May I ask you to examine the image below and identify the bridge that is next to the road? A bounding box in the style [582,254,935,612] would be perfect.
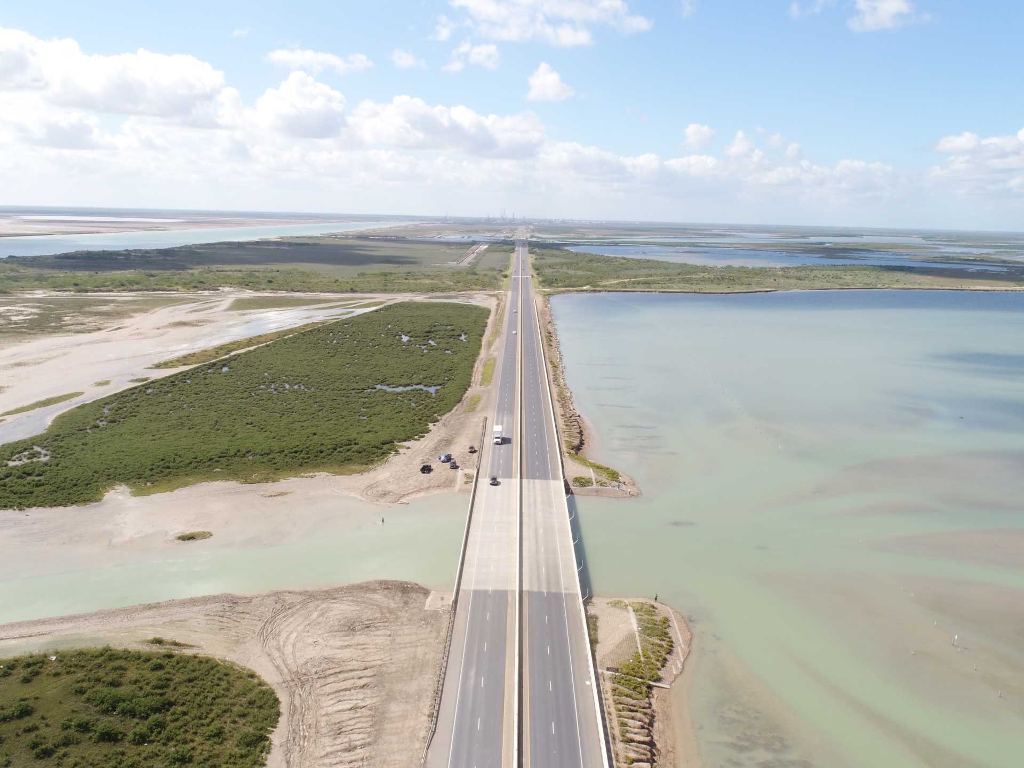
[451,475,585,601]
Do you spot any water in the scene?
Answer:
Yes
